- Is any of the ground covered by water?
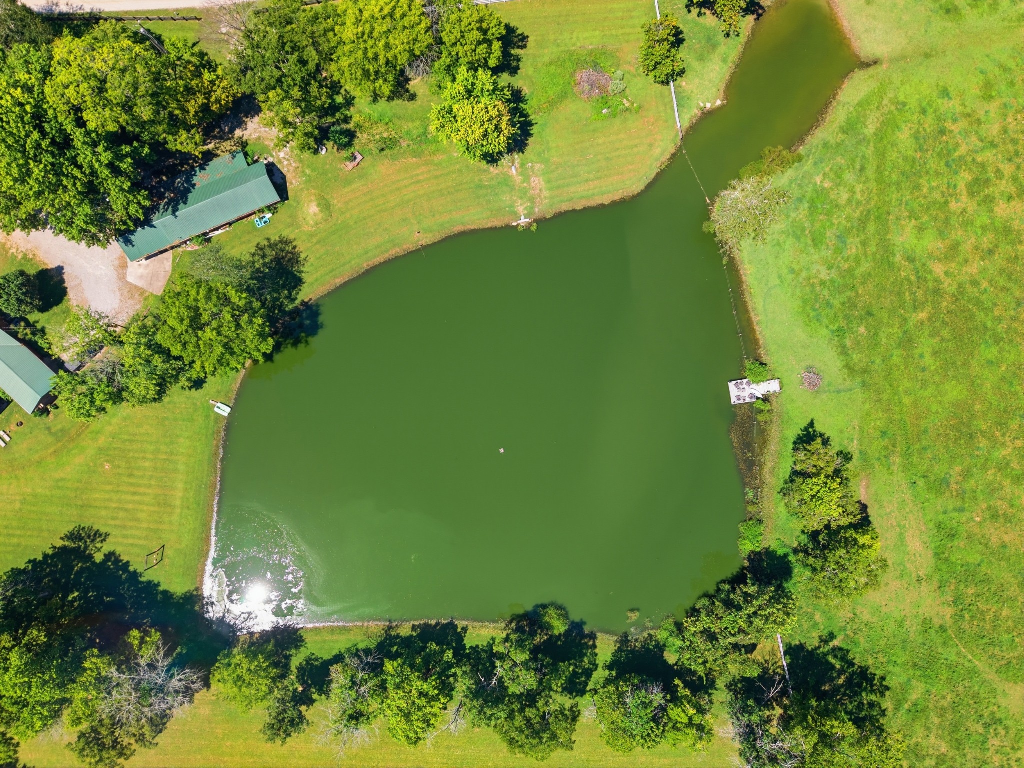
Yes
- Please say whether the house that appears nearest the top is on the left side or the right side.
left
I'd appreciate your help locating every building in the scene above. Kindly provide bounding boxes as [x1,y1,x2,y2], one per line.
[0,324,62,417]
[114,152,281,263]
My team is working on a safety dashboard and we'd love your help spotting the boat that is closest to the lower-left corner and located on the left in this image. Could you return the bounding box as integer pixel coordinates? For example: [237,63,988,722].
[215,403,232,416]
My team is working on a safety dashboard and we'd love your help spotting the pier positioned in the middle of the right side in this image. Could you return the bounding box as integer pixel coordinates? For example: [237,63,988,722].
[727,379,781,405]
